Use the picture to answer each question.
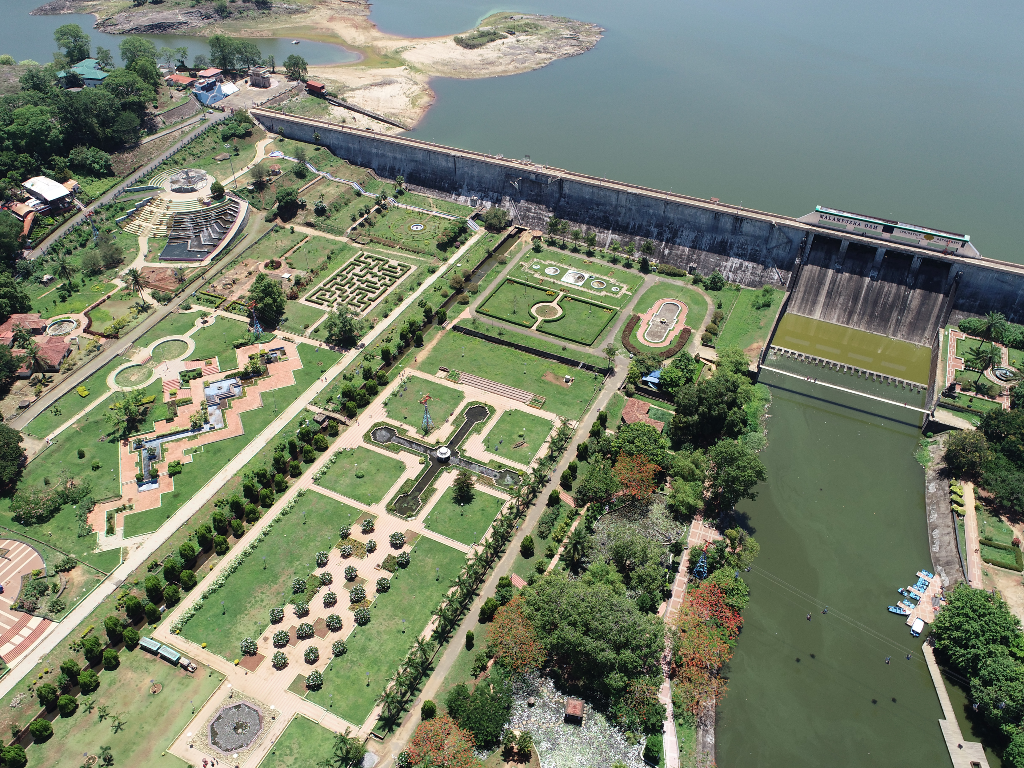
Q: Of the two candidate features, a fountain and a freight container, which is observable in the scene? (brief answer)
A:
fountain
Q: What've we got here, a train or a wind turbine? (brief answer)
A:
train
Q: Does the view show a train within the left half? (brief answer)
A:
Yes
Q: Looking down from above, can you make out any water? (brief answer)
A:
Yes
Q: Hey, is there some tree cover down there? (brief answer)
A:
Yes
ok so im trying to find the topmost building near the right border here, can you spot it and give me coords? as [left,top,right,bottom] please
[796,205,981,262]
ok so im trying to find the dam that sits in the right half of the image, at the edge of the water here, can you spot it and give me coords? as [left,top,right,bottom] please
[255,111,1024,356]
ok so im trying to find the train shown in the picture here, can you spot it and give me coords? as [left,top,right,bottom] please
[131,635,197,676]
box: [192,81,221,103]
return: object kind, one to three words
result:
building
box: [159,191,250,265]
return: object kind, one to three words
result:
fountain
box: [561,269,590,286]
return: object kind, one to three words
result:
fountain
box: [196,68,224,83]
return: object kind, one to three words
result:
building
